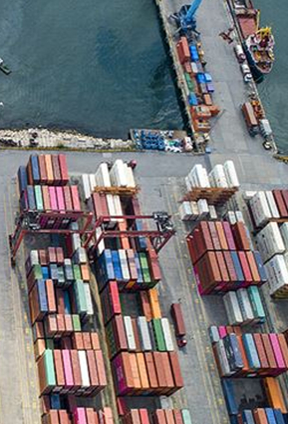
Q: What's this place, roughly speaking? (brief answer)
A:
port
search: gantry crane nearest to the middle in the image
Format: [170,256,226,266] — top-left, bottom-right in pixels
[83,214,177,260]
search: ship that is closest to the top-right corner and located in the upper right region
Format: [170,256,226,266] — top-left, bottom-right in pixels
[224,0,280,79]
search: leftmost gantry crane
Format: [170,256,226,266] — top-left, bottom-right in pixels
[11,209,98,262]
